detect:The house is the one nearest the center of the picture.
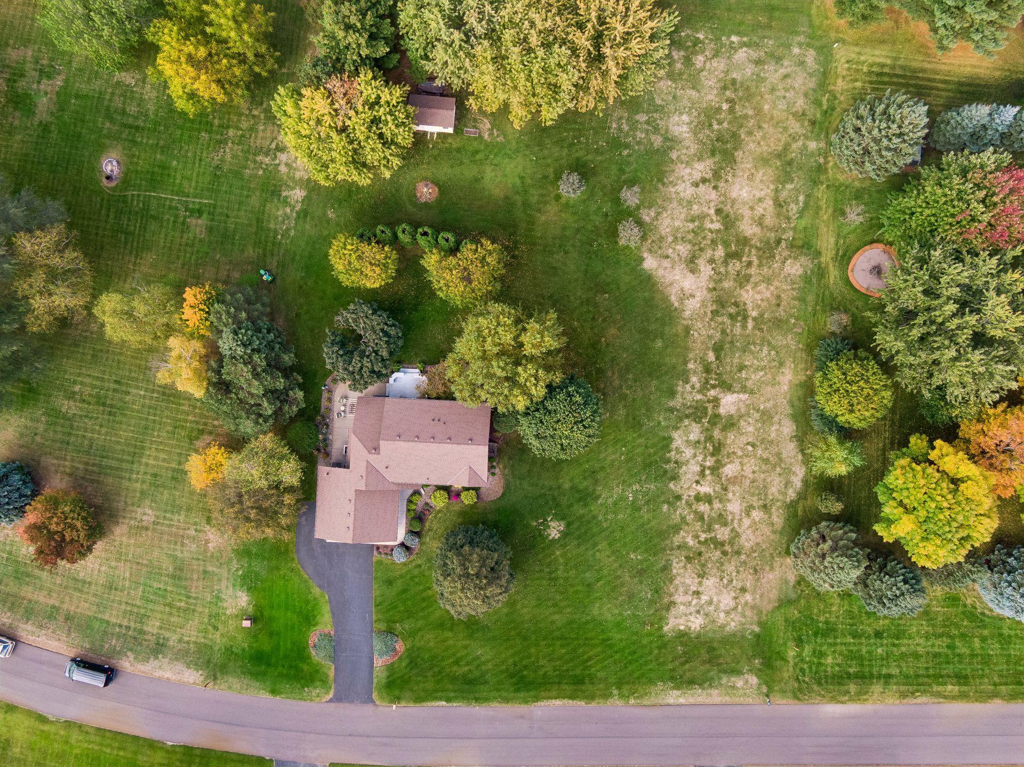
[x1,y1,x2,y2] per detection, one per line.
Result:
[314,396,491,544]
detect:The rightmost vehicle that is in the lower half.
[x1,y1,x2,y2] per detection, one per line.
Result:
[64,658,117,691]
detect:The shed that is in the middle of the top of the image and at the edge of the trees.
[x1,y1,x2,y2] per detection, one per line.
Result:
[409,94,456,134]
